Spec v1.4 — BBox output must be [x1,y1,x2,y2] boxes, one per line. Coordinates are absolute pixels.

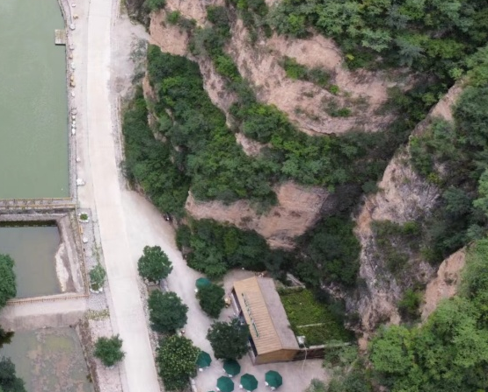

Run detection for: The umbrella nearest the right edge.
[265,372,282,388]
